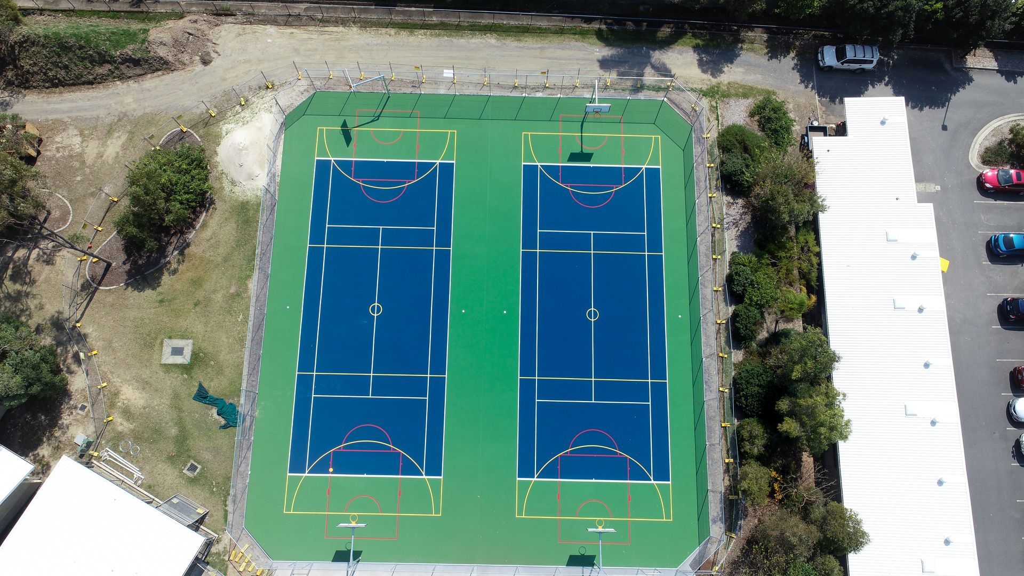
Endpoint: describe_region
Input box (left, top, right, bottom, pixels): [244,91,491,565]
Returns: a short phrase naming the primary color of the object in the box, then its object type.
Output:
green sports court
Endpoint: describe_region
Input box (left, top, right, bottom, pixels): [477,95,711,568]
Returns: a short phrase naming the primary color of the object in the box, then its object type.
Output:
green sports court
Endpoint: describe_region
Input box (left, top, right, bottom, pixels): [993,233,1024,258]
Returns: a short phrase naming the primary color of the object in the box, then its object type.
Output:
blue car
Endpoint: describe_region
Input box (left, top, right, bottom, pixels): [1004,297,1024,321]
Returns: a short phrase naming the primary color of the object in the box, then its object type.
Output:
black car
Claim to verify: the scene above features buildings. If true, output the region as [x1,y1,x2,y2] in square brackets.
[803,95,980,576]
[0,454,232,576]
